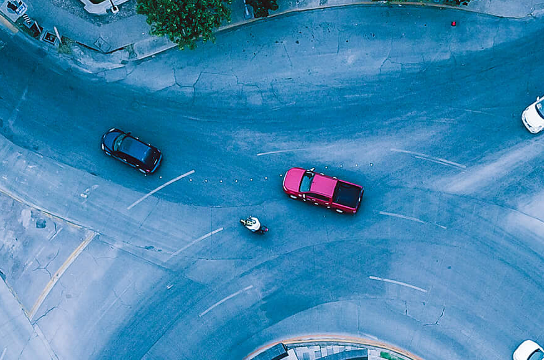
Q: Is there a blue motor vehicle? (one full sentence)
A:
Yes, looking at the shot, I can spot a blue motor vehicle.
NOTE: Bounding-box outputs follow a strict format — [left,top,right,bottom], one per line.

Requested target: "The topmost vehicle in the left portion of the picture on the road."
[99,128,165,175]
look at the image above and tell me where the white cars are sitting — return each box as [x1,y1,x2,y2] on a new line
[510,338,544,360]
[518,96,544,135]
